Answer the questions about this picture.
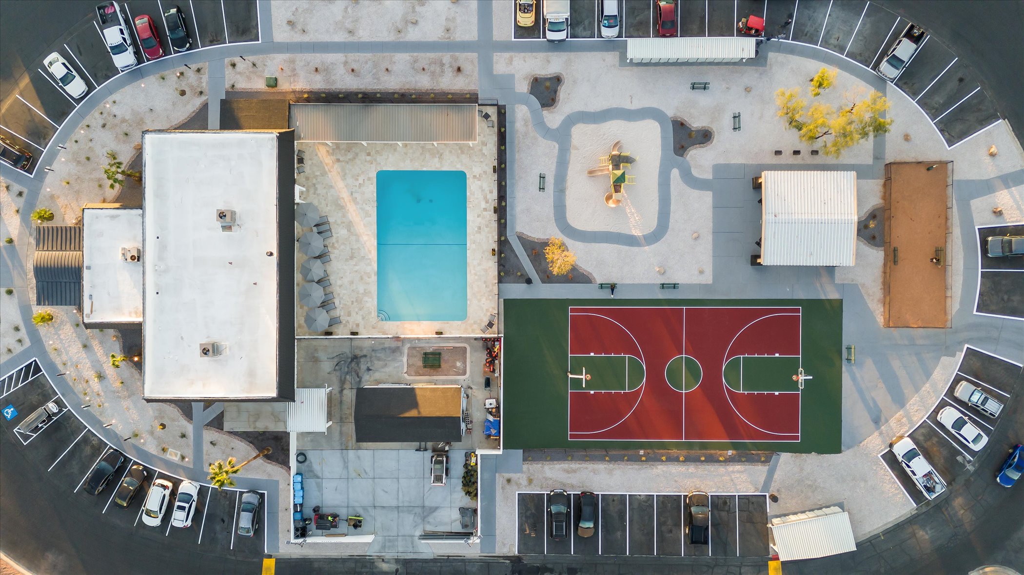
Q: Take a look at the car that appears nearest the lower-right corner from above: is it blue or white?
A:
blue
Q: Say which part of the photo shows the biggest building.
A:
left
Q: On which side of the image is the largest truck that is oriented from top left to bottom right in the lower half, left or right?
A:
right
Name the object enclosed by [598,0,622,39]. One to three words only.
car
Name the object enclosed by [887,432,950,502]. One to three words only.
truck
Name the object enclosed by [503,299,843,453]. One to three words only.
basketball court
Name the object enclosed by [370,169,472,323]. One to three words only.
swimming pool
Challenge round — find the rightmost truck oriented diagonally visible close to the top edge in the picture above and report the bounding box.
[875,20,930,83]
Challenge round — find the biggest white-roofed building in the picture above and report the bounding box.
[79,128,312,403]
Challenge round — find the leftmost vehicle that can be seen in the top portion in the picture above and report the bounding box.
[0,134,35,170]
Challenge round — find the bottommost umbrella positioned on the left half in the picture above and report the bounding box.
[303,307,331,335]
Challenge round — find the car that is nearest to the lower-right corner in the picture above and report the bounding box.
[993,440,1024,488]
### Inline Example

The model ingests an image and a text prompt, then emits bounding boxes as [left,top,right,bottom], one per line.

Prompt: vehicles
[134,13,165,62]
[655,0,678,36]
[576,490,598,539]
[43,50,91,101]
[10,402,62,439]
[739,15,772,39]
[163,4,194,54]
[174,479,203,529]
[0,134,35,170]
[686,489,711,546]
[517,0,536,24]
[951,381,1006,419]
[887,432,950,502]
[83,448,126,497]
[93,0,139,73]
[236,489,262,537]
[981,234,1024,258]
[598,0,622,39]
[934,406,988,452]
[544,0,572,44]
[547,488,570,542]
[113,463,149,511]
[993,440,1024,488]
[143,478,175,528]
[429,444,450,487]
[875,20,930,83]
